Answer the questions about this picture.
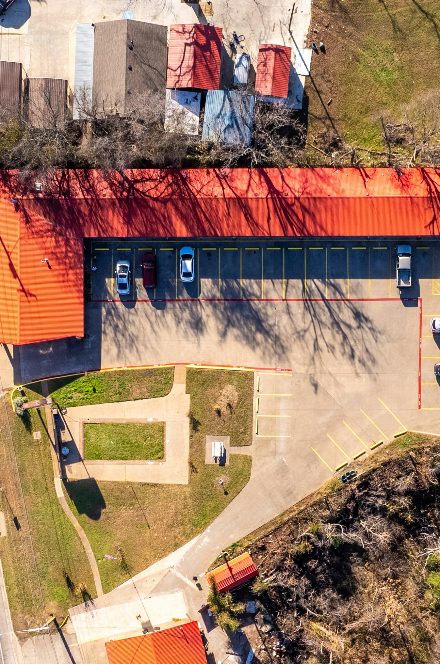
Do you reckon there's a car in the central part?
Yes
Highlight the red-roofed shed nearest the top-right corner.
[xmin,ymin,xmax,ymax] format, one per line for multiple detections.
[255,44,291,102]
